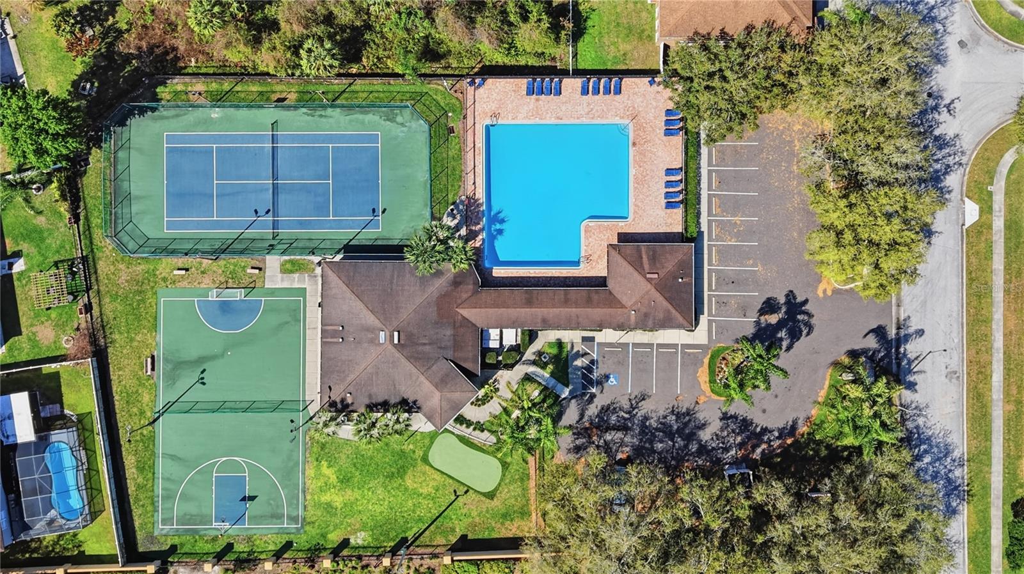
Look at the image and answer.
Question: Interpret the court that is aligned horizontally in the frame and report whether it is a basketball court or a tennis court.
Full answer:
The court that is aligned horizontally in the image is a tennis court.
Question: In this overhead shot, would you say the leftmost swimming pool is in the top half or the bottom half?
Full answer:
The leftmost swimming pool is in the bottom half of the image.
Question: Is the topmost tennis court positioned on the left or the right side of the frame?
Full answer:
The topmost tennis court appears in the left half of the scene.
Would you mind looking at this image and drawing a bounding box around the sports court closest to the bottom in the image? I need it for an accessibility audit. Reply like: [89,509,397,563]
[154,288,306,534]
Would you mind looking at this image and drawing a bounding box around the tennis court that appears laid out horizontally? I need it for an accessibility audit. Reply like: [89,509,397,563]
[113,107,433,256]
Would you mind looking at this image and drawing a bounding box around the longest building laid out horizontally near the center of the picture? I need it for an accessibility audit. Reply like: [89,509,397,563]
[317,243,695,431]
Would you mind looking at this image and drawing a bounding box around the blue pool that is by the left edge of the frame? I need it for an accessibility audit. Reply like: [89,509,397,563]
[42,439,85,522]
